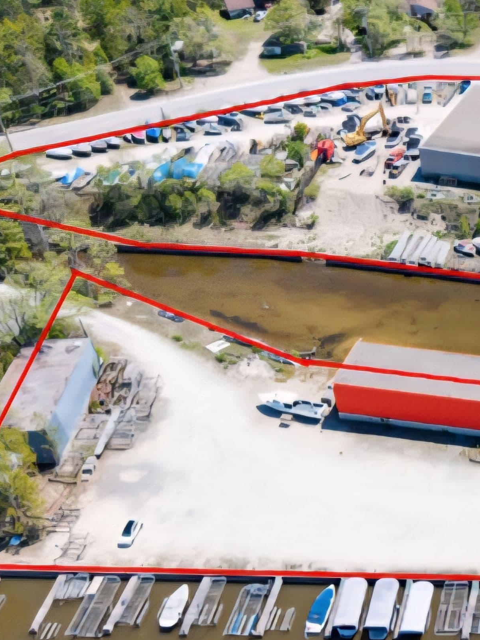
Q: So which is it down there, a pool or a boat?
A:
boat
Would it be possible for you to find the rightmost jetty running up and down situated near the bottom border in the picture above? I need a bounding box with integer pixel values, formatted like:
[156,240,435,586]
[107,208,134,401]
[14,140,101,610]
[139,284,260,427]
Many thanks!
[460,585,479,640]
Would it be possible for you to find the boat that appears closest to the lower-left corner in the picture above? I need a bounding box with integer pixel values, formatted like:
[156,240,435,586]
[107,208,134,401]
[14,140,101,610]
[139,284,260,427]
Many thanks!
[157,585,192,633]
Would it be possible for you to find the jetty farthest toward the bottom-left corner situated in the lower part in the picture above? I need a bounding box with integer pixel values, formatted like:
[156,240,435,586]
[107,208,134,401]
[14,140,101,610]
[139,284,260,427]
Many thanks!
[29,577,68,634]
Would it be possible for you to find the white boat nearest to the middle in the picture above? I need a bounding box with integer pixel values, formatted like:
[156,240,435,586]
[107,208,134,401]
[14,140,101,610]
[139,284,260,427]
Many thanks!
[206,340,231,353]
